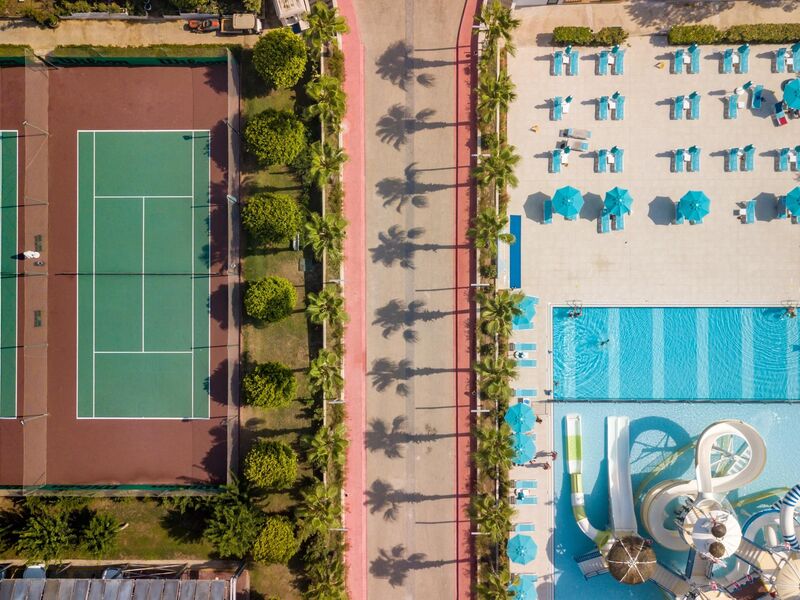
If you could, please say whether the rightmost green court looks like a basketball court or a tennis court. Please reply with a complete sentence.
The rightmost green court can be classified as a tennis court.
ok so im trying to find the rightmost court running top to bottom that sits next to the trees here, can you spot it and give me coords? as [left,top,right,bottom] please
[48,68,238,485]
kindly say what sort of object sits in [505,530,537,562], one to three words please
umbrella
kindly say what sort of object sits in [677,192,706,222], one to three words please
umbrella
